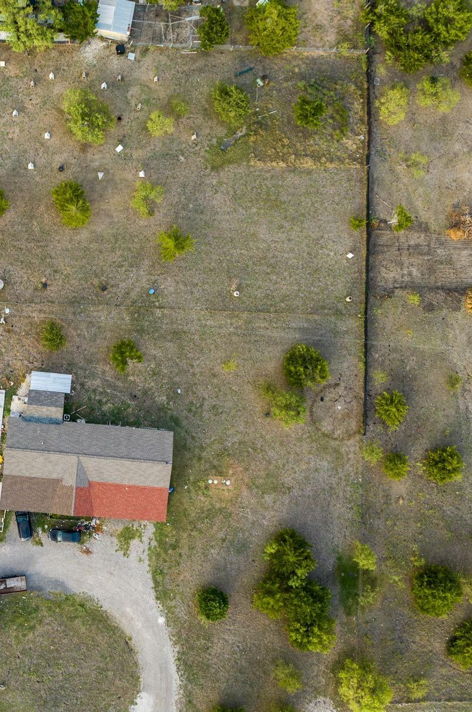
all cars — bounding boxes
[48,528,81,543]
[14,512,31,543]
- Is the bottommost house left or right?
left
